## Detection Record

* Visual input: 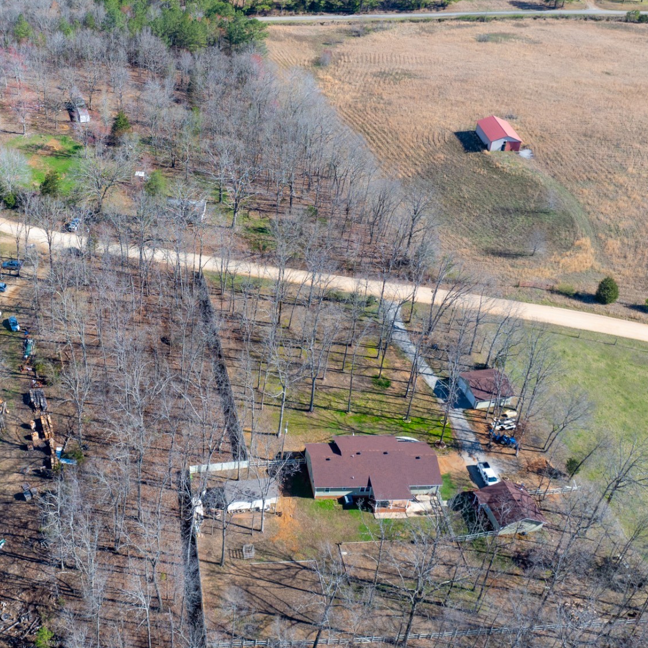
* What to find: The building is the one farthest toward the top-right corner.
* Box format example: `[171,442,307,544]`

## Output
[472,116,523,151]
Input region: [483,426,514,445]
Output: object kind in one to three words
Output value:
work vehicle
